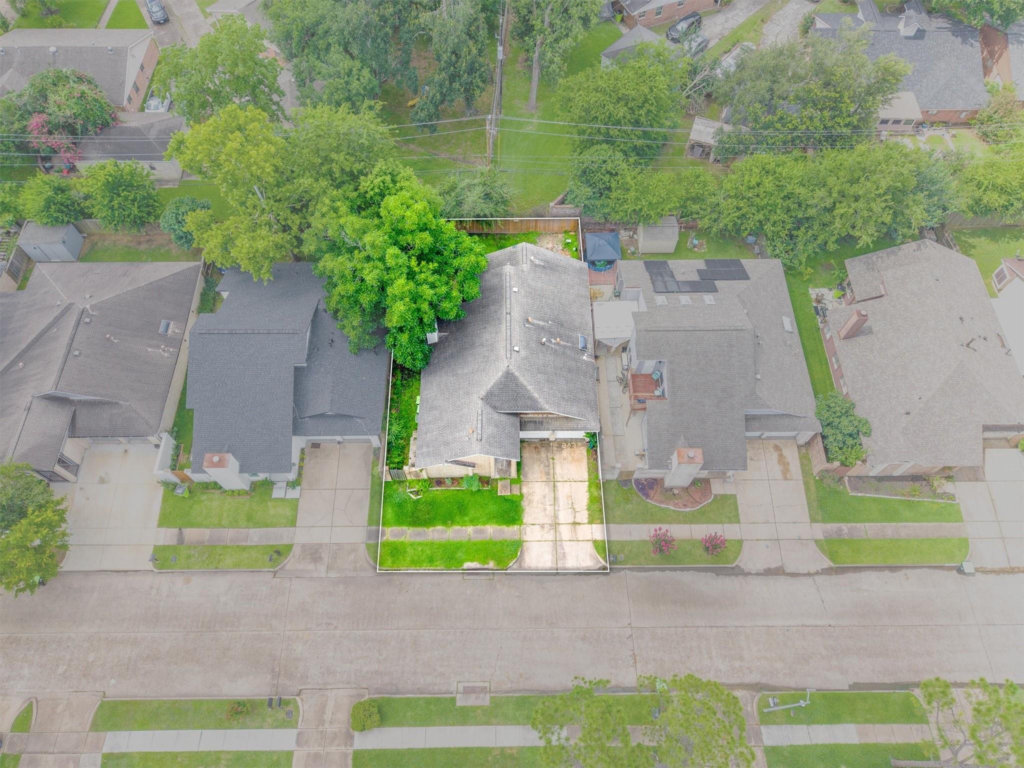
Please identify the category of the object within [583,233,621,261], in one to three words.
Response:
gazebo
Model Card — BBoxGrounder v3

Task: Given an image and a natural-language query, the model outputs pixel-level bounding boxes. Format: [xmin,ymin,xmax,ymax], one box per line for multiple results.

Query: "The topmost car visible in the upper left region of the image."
[140,0,171,27]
